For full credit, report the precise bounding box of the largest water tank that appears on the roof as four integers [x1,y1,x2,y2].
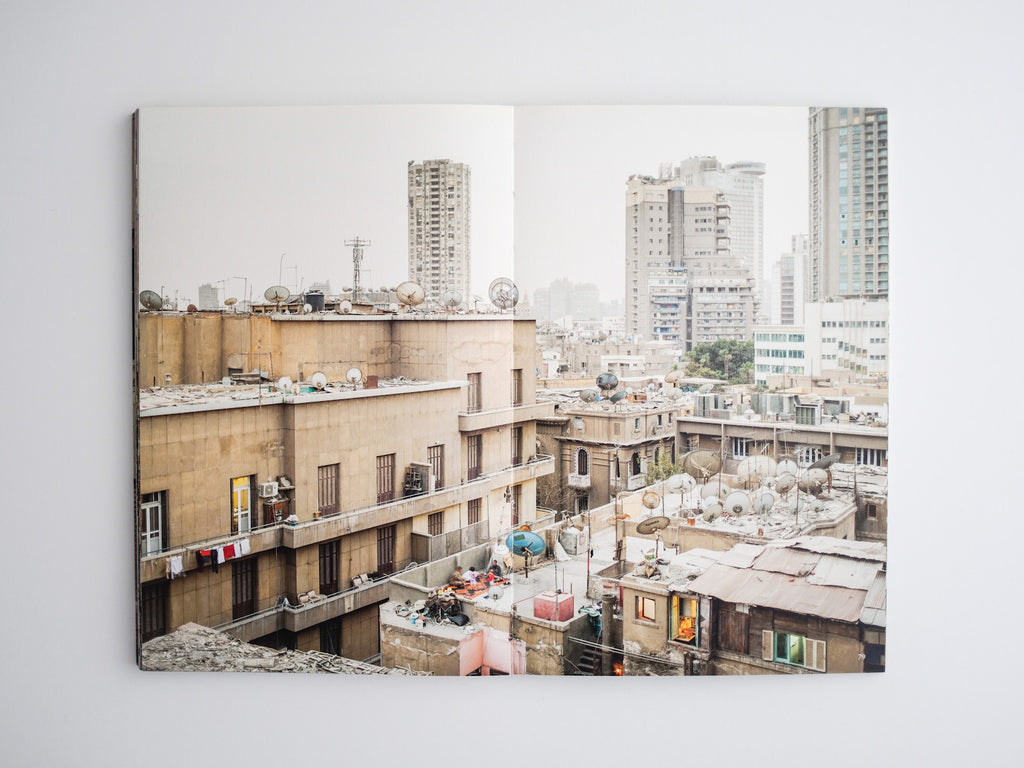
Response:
[560,509,588,554]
